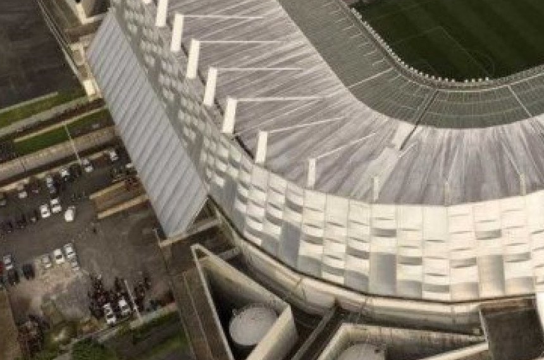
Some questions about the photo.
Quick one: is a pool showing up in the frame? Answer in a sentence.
No, no pool is visible in the view.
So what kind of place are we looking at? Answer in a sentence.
What you see here is a sports ground.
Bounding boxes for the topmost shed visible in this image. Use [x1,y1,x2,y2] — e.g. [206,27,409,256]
[83,83,104,113]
